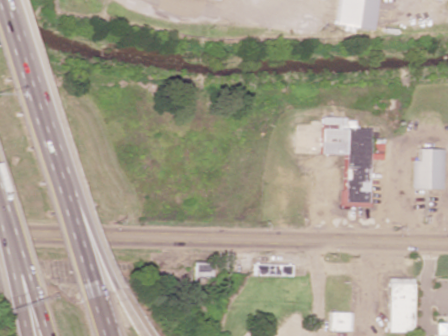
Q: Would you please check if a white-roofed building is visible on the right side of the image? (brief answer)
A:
Yes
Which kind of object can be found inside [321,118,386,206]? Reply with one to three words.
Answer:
building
